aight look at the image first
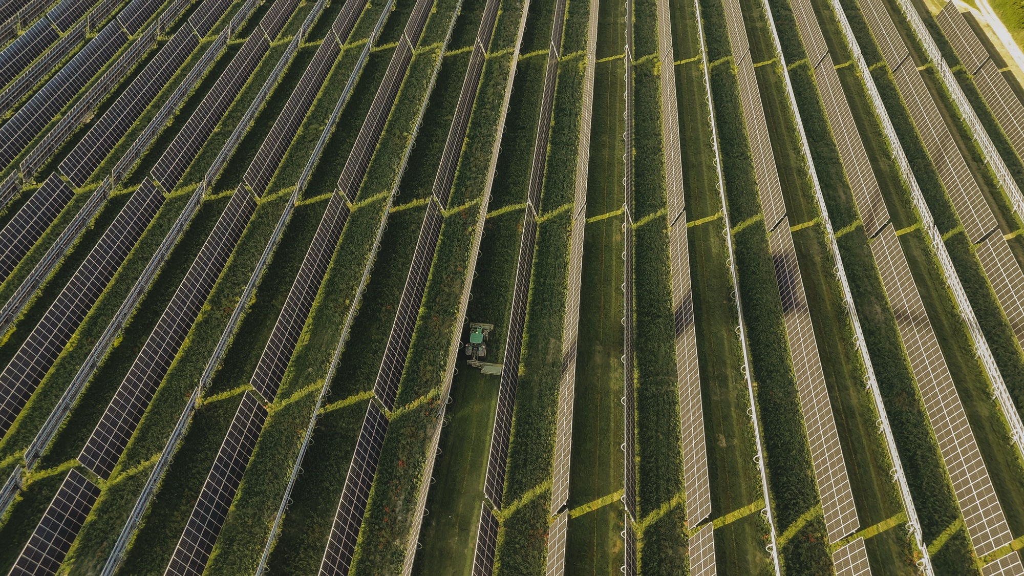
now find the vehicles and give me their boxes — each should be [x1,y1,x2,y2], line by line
[464,321,502,378]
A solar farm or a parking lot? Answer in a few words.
solar farm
